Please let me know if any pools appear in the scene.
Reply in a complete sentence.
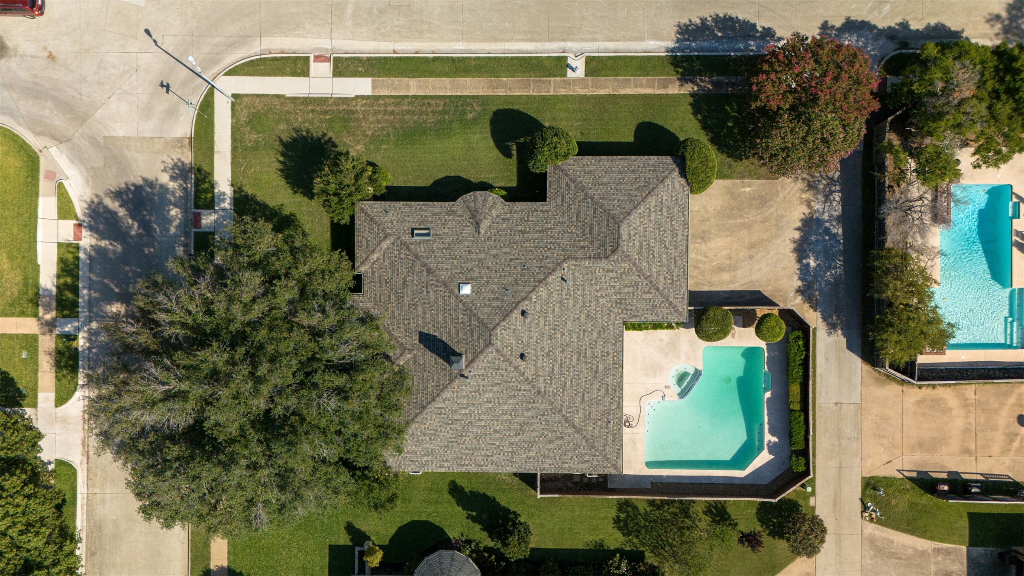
Yes, the frame does contain a pool.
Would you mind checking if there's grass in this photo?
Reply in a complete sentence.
Yes, grass can be seen from above here.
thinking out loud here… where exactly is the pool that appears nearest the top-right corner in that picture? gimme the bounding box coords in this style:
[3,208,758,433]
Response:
[935,184,1024,349]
